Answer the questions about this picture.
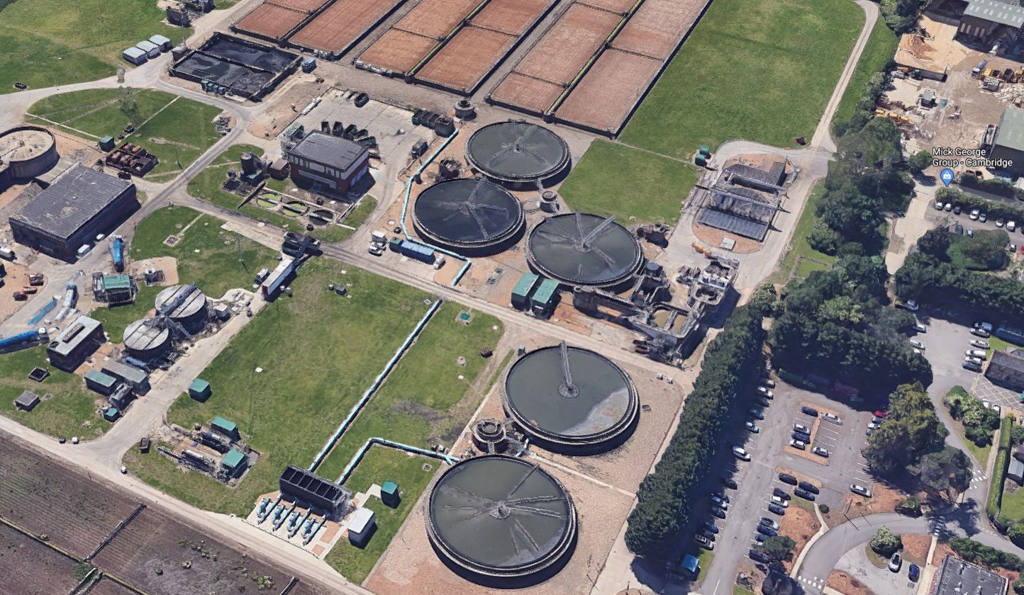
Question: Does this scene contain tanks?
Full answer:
Yes, there's a tank down there.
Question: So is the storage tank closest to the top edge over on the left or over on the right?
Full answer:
The storage tank closest to the top edge is on the left side of the image.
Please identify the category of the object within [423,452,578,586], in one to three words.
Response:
storage tank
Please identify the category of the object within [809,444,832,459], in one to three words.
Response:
car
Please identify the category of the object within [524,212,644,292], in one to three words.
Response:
storage tank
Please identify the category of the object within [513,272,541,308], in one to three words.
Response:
shed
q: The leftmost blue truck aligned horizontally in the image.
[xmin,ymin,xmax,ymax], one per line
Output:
[0,326,42,348]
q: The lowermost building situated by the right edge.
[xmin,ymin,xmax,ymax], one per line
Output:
[927,552,996,595]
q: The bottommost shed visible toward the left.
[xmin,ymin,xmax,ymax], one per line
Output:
[348,507,376,543]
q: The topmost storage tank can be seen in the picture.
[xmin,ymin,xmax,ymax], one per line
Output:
[170,37,305,100]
